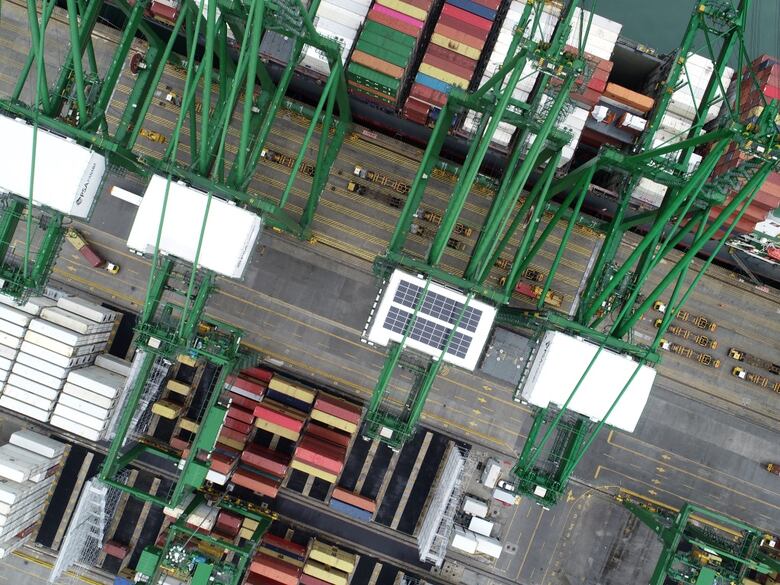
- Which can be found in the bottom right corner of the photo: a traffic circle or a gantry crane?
gantry crane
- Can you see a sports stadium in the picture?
No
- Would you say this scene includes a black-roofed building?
No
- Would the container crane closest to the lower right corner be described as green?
Yes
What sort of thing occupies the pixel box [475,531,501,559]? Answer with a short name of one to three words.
building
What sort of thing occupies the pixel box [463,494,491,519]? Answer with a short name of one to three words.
building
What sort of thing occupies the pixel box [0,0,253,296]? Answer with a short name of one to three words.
container crane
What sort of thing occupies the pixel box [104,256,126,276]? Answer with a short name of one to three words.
vehicle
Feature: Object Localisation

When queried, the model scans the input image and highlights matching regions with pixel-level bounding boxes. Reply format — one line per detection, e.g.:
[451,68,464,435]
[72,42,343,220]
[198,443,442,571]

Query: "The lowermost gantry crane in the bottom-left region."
[137,484,283,585]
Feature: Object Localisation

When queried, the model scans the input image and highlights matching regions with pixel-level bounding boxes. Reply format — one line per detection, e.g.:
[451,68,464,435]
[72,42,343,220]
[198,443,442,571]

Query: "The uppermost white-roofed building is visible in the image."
[479,452,503,489]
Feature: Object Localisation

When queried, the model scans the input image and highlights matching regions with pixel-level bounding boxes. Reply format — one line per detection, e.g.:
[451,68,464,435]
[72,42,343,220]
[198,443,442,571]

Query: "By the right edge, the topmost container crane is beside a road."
[496,0,780,504]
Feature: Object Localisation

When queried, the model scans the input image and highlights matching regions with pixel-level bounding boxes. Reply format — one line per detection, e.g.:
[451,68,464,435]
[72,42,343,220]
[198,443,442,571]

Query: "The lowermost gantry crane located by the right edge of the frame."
[621,498,775,585]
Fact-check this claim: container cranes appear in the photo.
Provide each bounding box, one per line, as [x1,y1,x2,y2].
[137,484,283,585]
[496,0,780,504]
[353,0,607,446]
[127,0,361,358]
[621,498,775,585]
[0,0,253,296]
[99,305,272,510]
